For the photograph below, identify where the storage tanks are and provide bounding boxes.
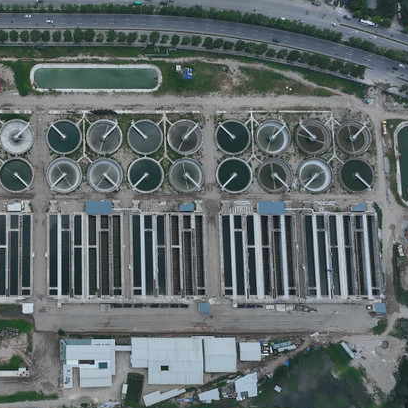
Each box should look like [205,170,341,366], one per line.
[127,157,164,194]
[296,157,334,194]
[168,157,204,195]
[86,120,122,156]
[214,120,250,156]
[46,119,83,156]
[127,120,164,156]
[214,157,252,194]
[334,121,372,156]
[46,157,83,194]
[255,157,293,194]
[87,157,123,194]
[0,119,34,156]
[337,158,375,195]
[167,120,203,156]
[293,120,331,156]
[253,120,290,156]
[0,157,35,194]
